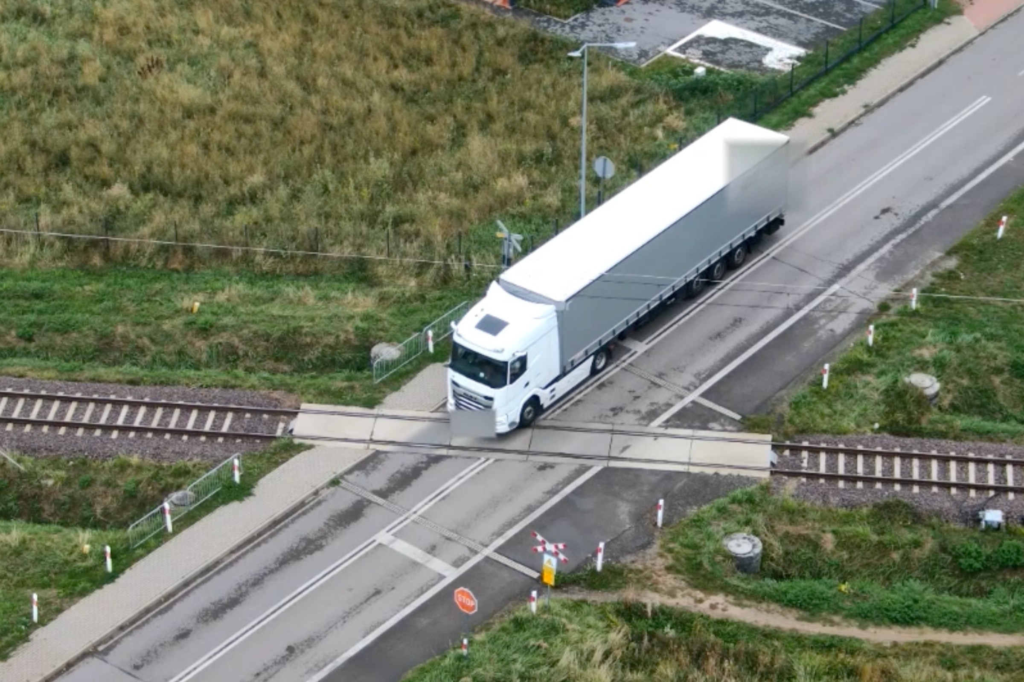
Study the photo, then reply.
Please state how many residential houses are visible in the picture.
0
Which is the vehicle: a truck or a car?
truck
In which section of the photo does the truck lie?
center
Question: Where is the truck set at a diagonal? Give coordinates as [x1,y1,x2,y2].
[442,117,790,435]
